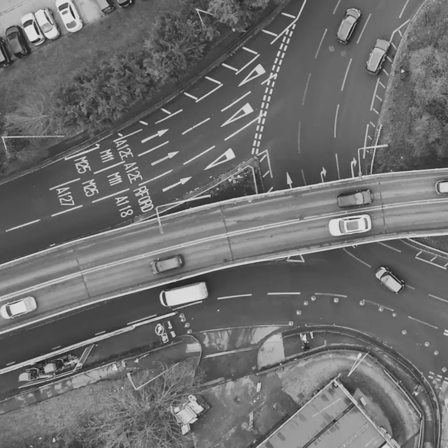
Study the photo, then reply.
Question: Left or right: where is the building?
right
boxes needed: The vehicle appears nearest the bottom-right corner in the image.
[374,264,406,296]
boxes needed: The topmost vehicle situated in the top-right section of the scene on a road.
[335,8,362,45]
